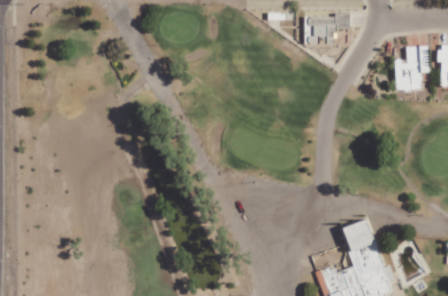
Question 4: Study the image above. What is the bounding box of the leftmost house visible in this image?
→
[305,16,336,44]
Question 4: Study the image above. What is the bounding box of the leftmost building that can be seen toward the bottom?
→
[316,220,396,296]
